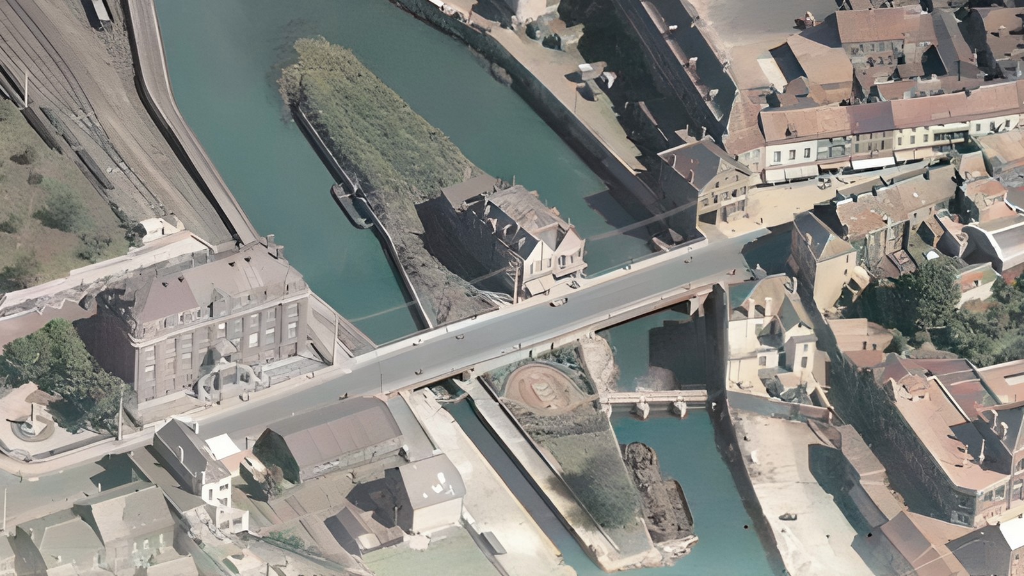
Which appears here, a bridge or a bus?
bridge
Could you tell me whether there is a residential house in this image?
Yes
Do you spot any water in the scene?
Yes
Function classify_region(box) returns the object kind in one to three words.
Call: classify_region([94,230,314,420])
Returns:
building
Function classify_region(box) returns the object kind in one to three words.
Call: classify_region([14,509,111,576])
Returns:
house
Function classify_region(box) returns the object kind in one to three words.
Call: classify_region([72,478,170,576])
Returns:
house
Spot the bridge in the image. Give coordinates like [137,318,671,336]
[373,234,730,392]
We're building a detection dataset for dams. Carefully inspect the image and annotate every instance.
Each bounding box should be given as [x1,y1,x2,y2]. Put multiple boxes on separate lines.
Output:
[596,389,708,421]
